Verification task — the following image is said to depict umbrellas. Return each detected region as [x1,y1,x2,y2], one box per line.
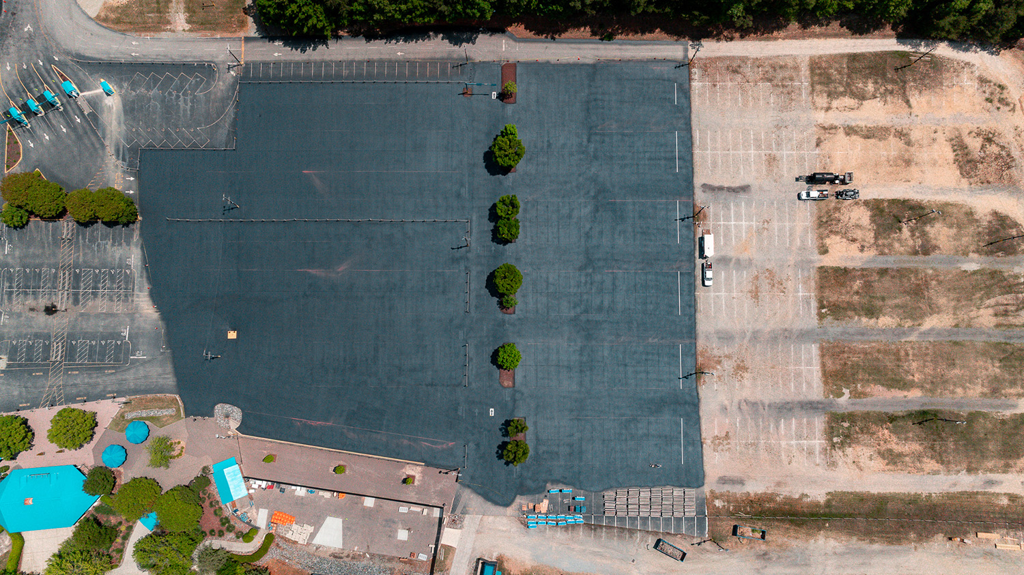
[126,420,150,444]
[102,443,128,468]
